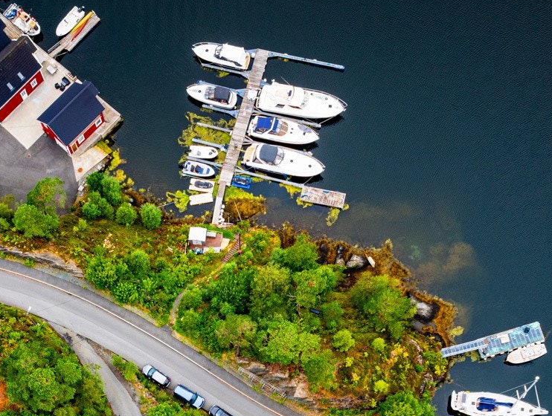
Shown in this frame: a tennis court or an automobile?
automobile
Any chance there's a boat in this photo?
Yes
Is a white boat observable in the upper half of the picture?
Yes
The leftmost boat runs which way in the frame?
diagonally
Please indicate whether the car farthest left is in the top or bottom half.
bottom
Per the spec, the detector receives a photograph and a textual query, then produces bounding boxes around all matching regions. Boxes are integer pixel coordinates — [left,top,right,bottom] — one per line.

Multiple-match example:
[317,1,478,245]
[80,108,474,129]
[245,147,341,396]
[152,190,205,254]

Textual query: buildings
[37,81,105,151]
[0,36,44,119]
[188,227,230,253]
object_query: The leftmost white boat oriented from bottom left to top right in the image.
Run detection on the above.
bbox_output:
[56,1,86,37]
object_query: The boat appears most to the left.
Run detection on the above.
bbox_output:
[5,3,35,36]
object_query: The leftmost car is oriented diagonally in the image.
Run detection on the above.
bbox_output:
[142,364,171,387]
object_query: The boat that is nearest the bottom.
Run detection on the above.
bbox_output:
[449,383,552,416]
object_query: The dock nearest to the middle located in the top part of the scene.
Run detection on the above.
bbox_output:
[186,48,342,224]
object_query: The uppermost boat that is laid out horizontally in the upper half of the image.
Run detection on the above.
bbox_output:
[192,40,252,71]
